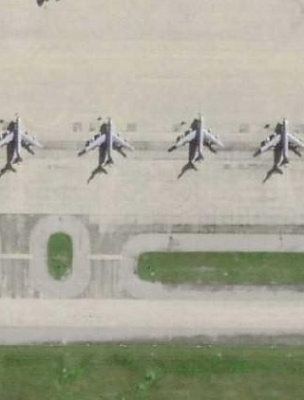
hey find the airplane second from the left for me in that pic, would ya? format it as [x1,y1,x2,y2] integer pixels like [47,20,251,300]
[87,119,134,169]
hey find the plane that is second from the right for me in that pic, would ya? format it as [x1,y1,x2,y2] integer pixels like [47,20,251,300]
[178,116,226,165]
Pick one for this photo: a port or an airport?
airport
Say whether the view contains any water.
No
